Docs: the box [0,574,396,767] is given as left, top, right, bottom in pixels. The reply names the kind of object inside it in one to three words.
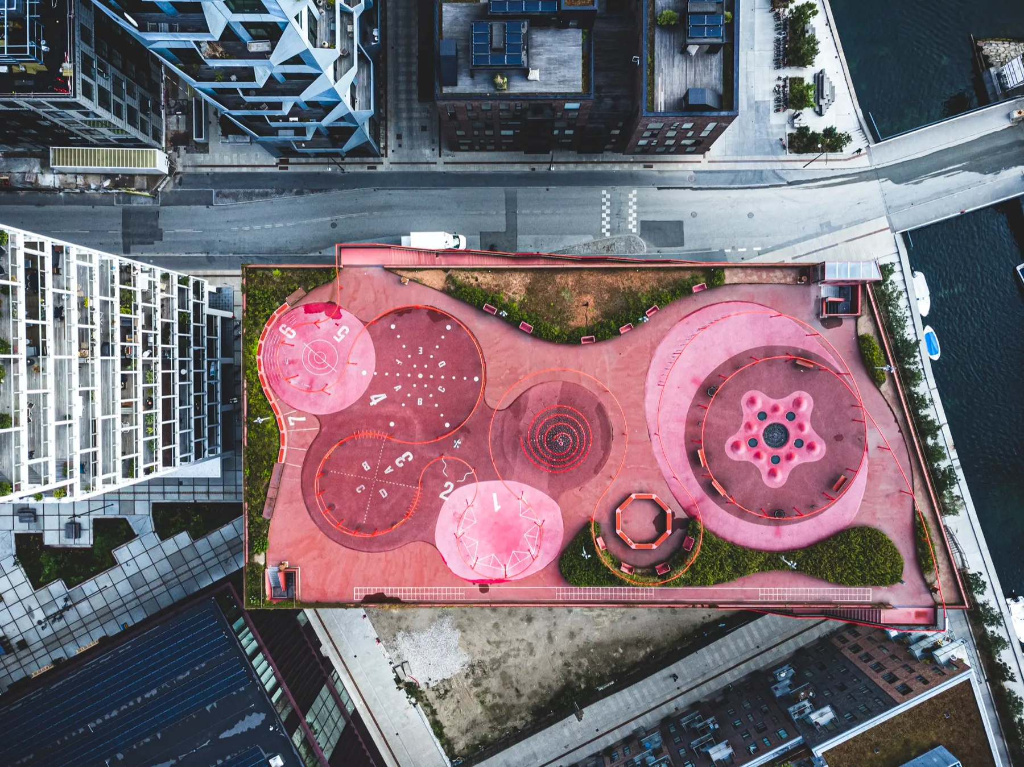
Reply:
building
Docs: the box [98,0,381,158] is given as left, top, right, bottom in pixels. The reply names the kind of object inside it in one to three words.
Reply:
house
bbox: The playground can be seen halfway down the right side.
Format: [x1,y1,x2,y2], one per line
[725,392,826,489]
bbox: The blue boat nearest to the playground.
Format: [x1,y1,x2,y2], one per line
[925,326,940,361]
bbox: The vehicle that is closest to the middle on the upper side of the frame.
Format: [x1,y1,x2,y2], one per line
[401,231,467,252]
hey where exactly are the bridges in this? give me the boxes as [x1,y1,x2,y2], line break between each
[761,94,1024,233]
